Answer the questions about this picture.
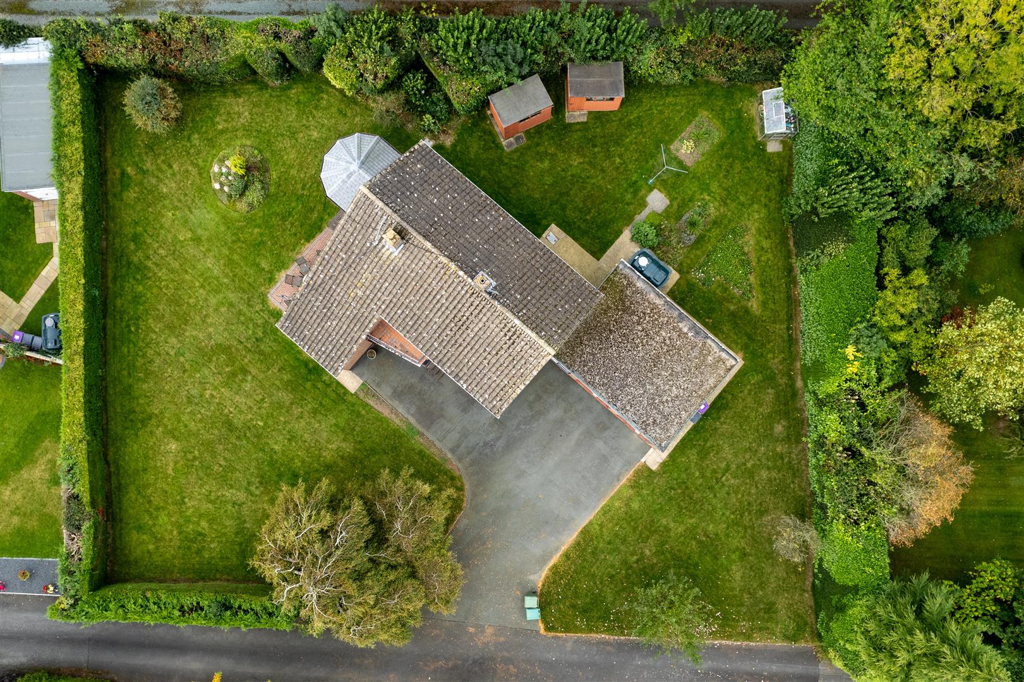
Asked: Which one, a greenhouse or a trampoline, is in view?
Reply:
greenhouse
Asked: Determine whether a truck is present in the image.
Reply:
No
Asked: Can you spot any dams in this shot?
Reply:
No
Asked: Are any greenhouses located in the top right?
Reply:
Yes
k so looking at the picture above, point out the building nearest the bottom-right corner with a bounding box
[550,259,742,451]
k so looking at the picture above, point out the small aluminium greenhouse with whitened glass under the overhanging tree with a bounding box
[755,81,810,138]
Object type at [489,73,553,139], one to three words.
shed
